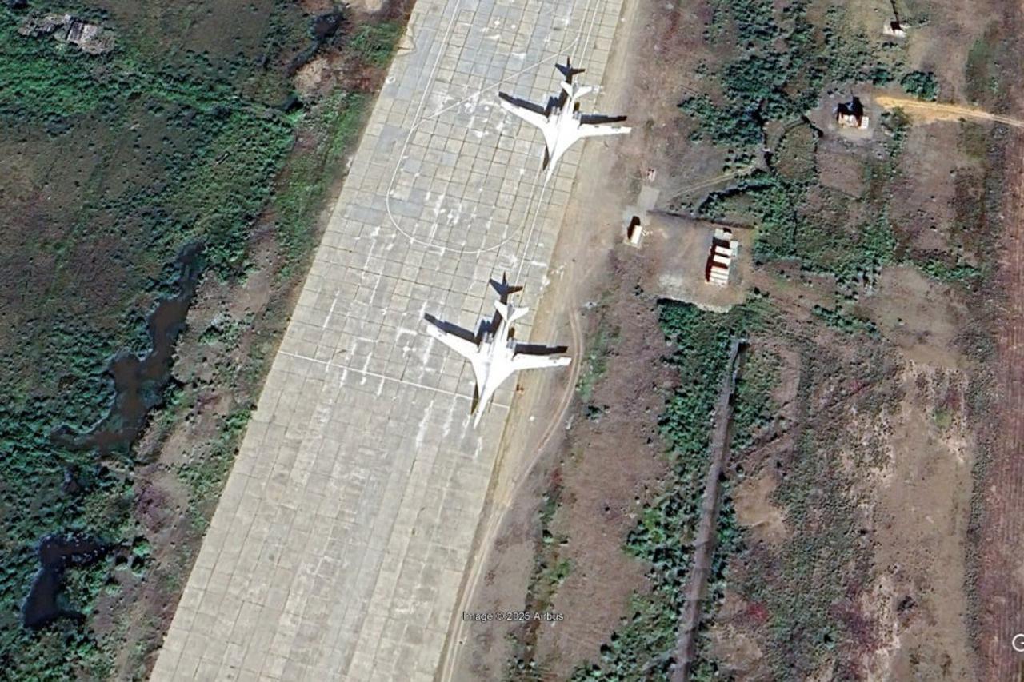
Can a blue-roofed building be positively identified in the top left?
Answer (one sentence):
No, in the top left there is no blue-roofed building.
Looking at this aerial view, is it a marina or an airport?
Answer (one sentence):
The picture captures an airport.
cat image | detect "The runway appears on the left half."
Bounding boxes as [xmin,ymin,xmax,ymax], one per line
[152,0,621,682]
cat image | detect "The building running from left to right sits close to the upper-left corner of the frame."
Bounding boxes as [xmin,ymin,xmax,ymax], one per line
[22,13,98,44]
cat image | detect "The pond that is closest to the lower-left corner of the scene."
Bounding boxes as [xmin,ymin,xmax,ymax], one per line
[22,533,111,627]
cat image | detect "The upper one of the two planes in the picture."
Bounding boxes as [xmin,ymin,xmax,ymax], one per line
[500,77,632,186]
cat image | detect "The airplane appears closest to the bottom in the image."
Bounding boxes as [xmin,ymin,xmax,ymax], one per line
[427,299,573,429]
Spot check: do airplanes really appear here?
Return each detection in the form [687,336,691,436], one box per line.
[500,77,632,186]
[427,299,573,429]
